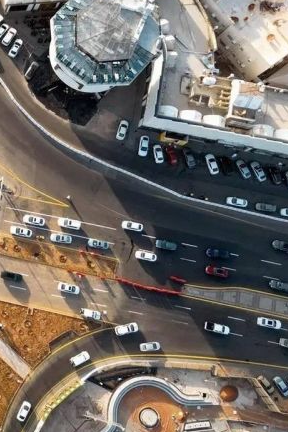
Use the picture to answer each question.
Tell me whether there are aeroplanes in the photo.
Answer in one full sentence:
No, there is no aeroplane in the image.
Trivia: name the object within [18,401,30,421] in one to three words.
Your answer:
vehicle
